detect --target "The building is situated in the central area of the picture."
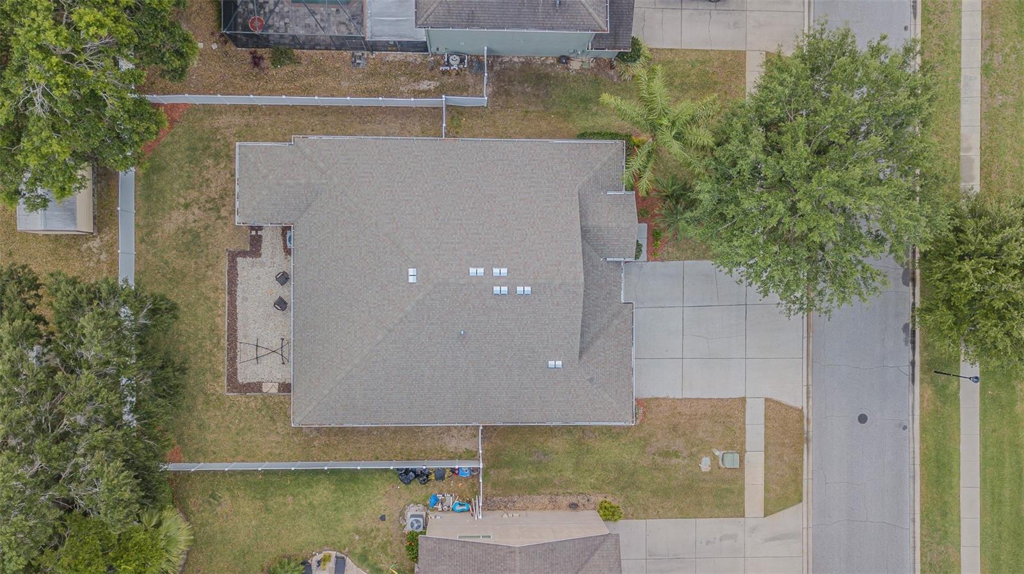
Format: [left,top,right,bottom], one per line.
[234,134,638,429]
